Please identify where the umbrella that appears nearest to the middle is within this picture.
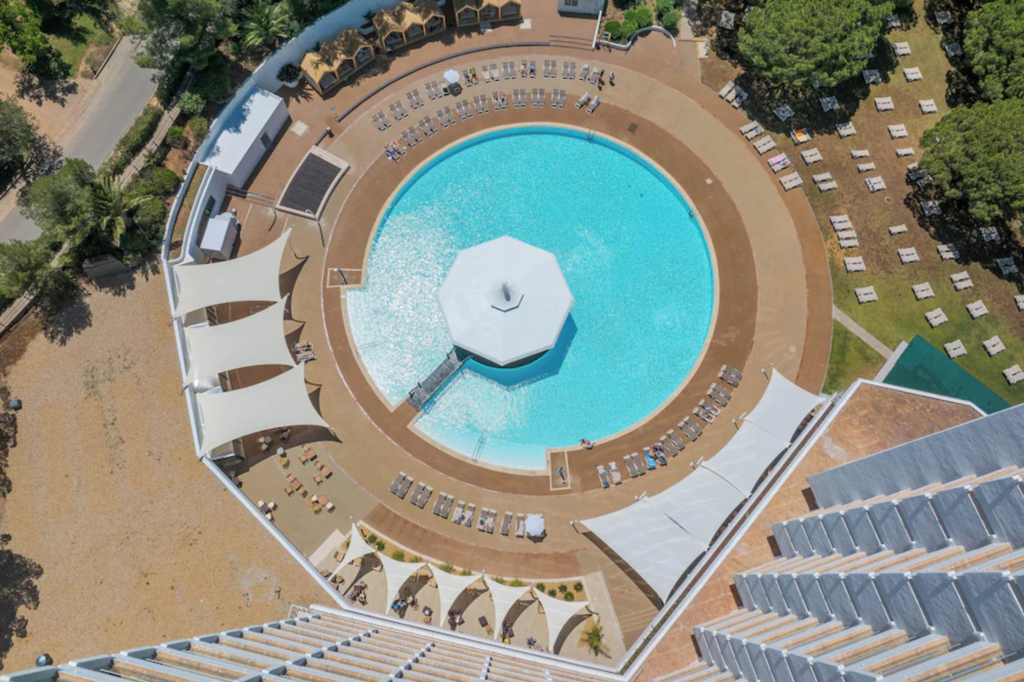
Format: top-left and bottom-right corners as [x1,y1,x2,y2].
[524,514,546,537]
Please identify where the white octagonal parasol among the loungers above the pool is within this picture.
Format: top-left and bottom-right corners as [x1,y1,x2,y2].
[443,71,461,90]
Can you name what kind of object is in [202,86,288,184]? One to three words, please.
shed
